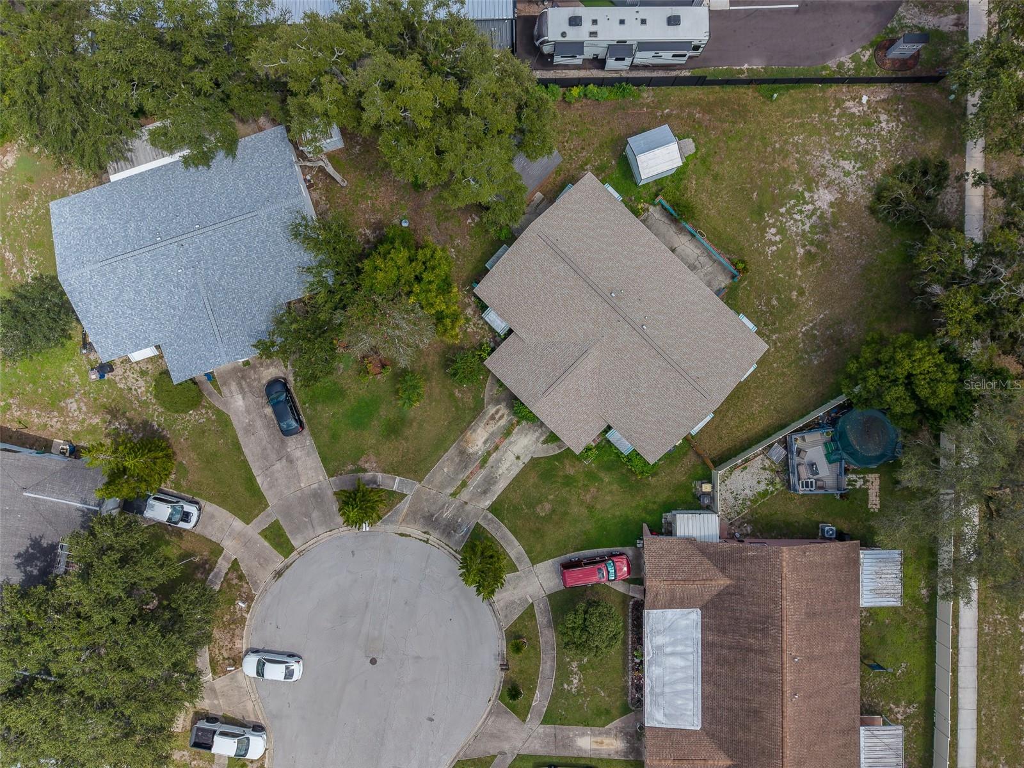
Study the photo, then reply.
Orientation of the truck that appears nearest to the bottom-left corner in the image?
horizontally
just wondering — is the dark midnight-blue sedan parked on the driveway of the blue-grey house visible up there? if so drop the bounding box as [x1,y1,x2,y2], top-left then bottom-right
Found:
[265,376,306,438]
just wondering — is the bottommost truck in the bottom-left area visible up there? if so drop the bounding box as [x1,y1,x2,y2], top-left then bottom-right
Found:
[189,717,270,761]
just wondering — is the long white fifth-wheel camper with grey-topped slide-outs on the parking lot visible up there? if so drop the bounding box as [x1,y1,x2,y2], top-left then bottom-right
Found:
[533,0,710,74]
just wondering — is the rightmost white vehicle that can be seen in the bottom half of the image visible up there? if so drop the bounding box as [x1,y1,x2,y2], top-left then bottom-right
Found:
[243,648,306,682]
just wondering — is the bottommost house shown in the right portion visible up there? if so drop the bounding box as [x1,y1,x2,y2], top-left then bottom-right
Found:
[642,532,860,768]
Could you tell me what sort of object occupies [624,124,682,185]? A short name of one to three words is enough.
shed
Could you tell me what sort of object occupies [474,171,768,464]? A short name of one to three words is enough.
house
